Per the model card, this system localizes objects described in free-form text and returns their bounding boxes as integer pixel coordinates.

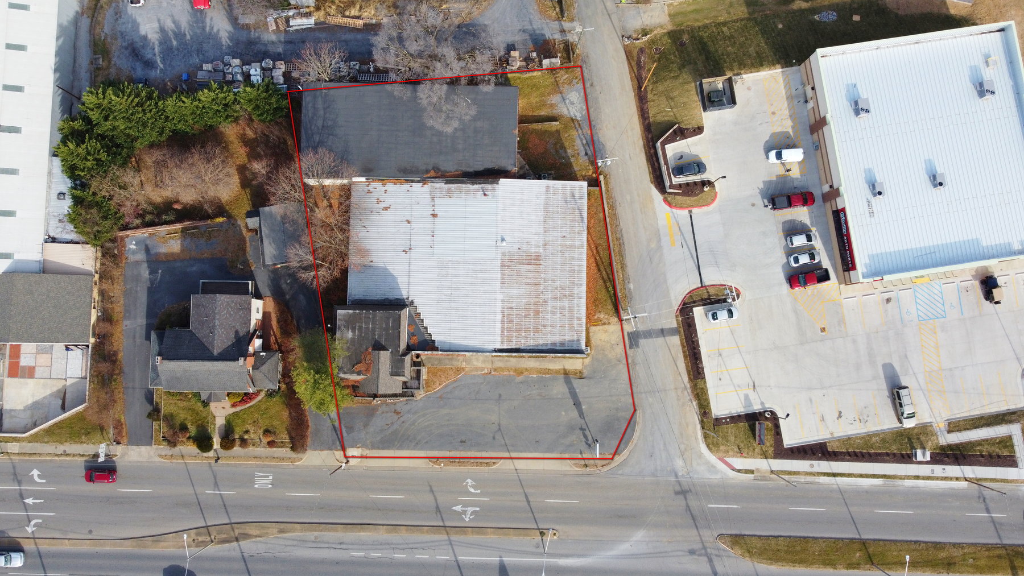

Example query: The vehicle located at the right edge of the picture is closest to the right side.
[978,275,1005,306]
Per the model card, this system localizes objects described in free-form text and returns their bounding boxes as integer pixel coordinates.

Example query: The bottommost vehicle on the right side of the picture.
[892,387,917,426]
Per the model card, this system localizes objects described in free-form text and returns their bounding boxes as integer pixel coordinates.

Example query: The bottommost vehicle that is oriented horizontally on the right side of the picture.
[705,306,740,324]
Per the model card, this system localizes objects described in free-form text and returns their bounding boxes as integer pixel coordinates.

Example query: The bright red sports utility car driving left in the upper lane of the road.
[85,469,119,485]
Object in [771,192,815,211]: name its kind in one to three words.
vehicle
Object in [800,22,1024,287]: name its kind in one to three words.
building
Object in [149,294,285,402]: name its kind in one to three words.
house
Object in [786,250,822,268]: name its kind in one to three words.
car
